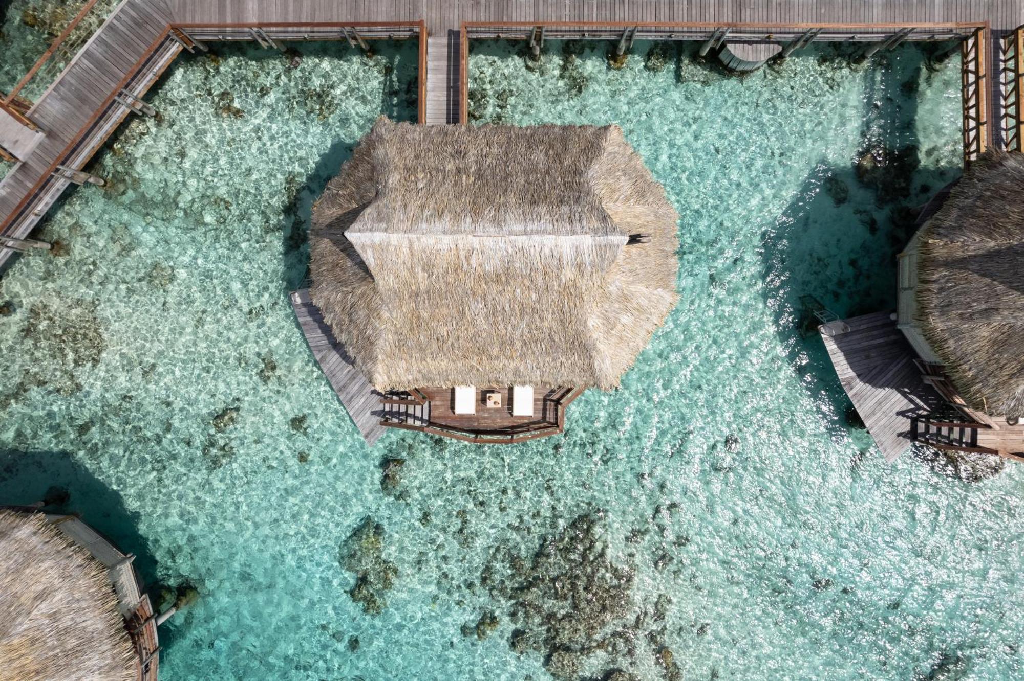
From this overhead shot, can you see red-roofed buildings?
No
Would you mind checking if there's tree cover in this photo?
No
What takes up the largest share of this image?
water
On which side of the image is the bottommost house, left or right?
left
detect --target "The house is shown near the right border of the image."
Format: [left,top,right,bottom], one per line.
[812,149,1024,470]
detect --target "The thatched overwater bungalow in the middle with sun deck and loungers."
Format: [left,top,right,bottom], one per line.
[292,118,680,444]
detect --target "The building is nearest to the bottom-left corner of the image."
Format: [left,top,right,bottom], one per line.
[0,505,164,681]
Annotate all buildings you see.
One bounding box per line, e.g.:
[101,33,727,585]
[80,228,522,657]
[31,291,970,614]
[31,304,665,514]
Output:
[292,118,680,444]
[0,505,164,681]
[812,149,1024,470]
